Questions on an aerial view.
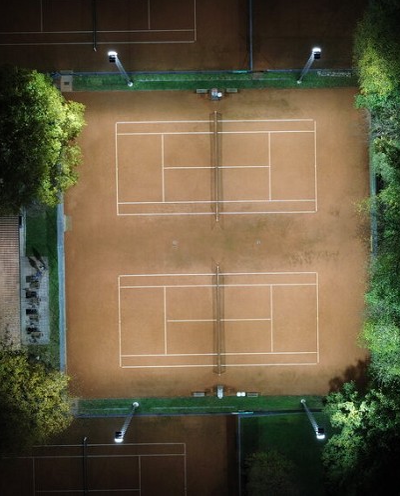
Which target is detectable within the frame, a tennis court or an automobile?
tennis court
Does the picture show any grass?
Yes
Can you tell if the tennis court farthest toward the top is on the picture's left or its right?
left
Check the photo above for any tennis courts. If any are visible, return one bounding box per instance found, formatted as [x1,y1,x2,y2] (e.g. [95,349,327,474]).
[0,416,239,496]
[63,87,371,245]
[0,0,249,73]
[66,241,372,400]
